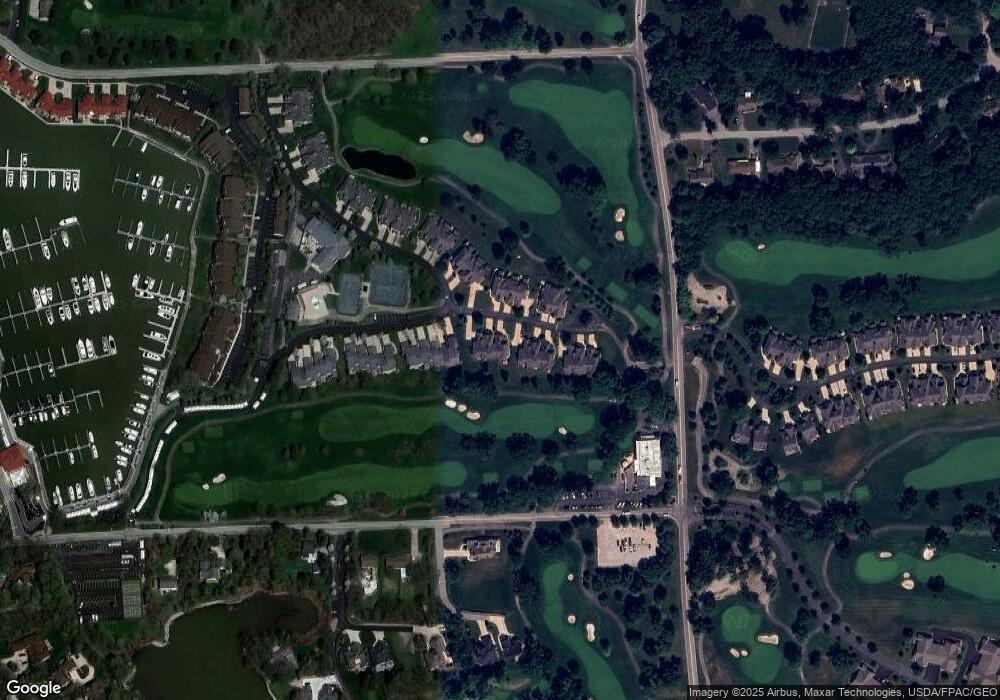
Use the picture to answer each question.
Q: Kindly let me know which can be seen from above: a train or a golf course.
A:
golf course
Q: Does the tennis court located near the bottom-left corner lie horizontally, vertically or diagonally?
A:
vertically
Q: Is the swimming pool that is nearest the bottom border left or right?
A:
left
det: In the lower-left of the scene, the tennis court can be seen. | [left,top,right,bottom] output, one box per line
[122,581,142,619]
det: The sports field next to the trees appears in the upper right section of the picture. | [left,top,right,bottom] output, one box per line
[809,0,849,49]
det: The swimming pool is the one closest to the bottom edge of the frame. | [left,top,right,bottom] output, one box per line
[299,281,333,320]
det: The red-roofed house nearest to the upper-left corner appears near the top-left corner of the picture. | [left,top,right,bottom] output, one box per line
[0,56,42,104]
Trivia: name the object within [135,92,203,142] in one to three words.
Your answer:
building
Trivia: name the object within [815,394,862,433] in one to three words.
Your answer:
house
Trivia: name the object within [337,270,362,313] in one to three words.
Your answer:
tennis court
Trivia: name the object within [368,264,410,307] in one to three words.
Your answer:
tennis court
